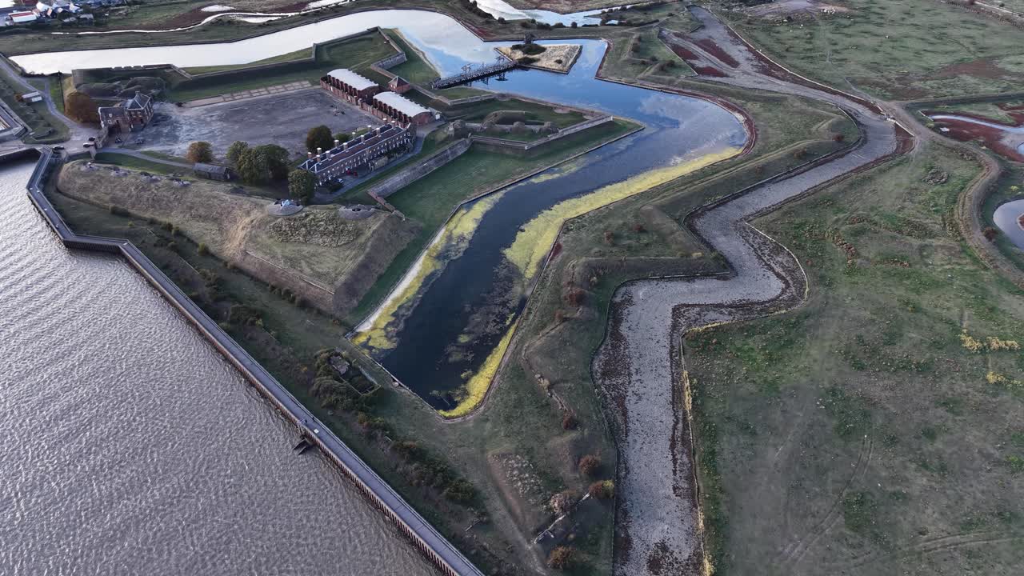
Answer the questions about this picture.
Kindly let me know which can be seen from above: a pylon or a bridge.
bridge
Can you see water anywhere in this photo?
Yes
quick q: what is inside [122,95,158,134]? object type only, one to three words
house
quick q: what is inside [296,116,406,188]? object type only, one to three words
building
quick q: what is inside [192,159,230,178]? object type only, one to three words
shed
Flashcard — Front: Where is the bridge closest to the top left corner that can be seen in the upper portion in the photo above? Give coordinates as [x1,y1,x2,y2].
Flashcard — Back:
[430,56,518,88]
